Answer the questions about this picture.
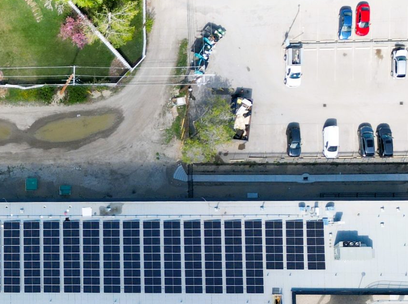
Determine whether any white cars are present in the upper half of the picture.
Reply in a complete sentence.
Yes, the scene does show a white car in the upper half of the picture.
